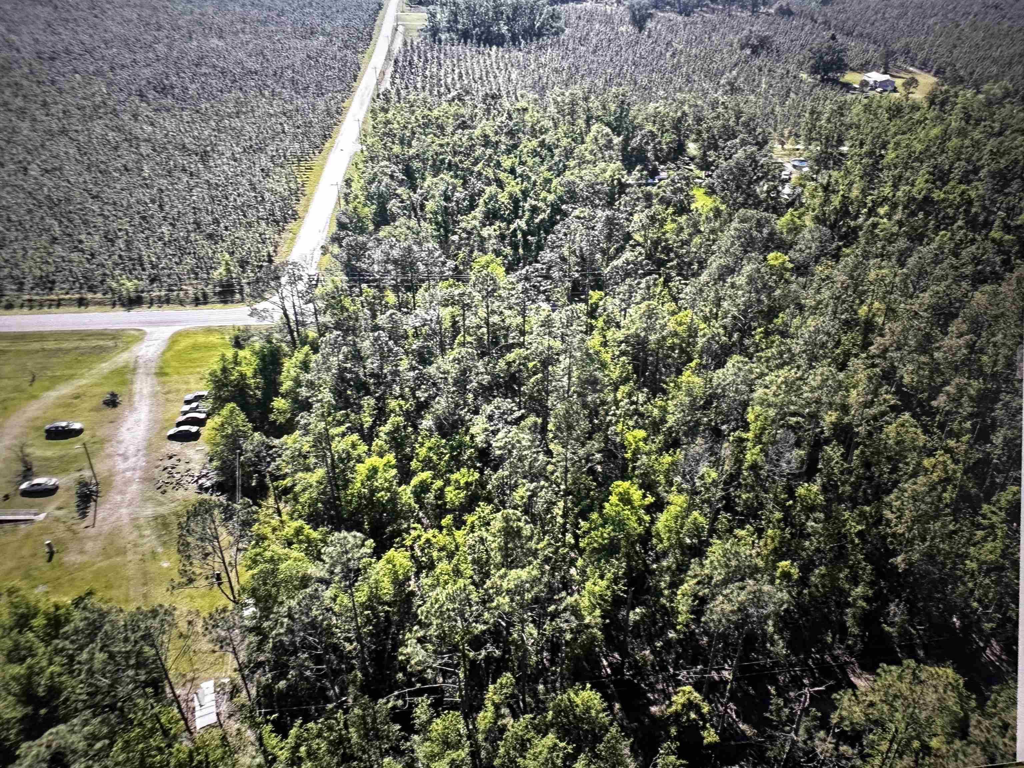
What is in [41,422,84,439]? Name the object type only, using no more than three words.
car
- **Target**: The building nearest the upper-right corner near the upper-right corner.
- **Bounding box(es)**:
[850,74,901,91]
